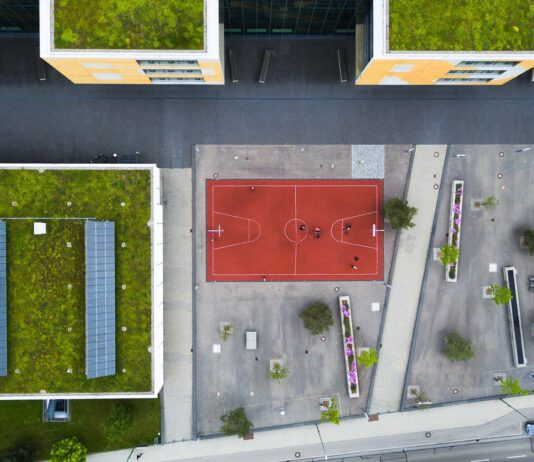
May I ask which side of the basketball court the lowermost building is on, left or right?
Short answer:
left of it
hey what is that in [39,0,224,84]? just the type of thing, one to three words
building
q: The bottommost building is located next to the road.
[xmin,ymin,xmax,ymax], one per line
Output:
[0,164,164,399]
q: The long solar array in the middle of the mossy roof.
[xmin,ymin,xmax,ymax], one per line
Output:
[84,221,116,379]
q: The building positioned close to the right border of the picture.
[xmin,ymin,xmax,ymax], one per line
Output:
[356,0,534,84]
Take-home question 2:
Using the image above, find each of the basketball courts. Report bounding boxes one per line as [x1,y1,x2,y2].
[205,178,385,282]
